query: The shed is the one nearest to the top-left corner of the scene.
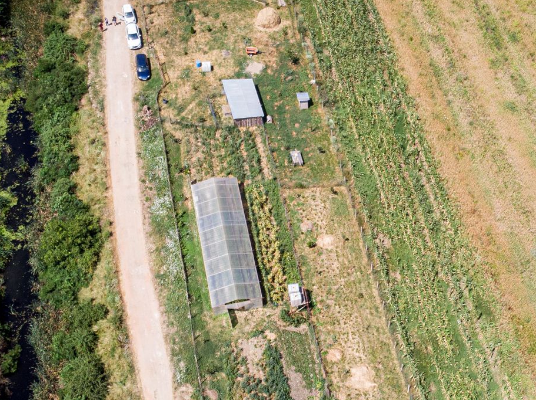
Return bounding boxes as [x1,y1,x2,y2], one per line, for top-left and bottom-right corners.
[222,77,265,129]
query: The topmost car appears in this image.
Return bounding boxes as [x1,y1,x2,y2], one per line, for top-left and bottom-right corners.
[117,0,137,23]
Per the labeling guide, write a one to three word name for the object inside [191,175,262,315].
greenhouse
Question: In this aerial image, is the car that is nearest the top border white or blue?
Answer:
white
